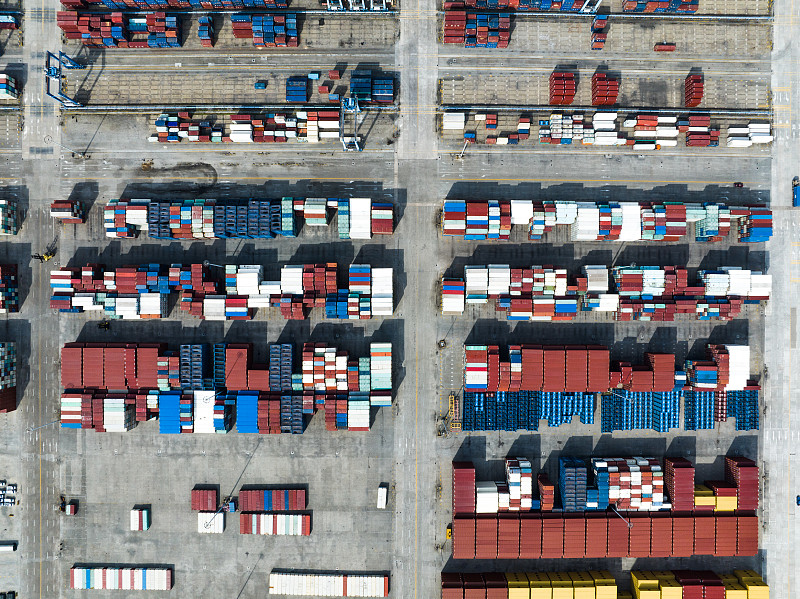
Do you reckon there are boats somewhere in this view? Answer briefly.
No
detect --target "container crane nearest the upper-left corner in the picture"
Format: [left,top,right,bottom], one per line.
[45,48,86,109]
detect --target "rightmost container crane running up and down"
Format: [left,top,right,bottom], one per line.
[338,94,363,152]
